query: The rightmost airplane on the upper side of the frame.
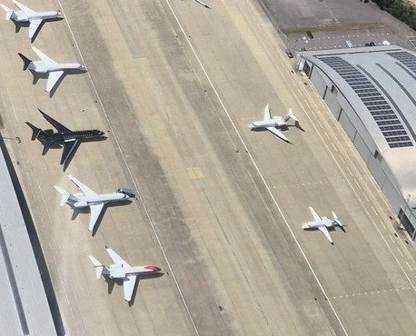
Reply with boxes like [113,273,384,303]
[248,106,305,142]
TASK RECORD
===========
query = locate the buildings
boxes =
[0,144,56,336]
[296,43,416,228]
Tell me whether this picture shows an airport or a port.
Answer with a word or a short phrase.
airport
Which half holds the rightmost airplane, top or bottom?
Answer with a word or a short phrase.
bottom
